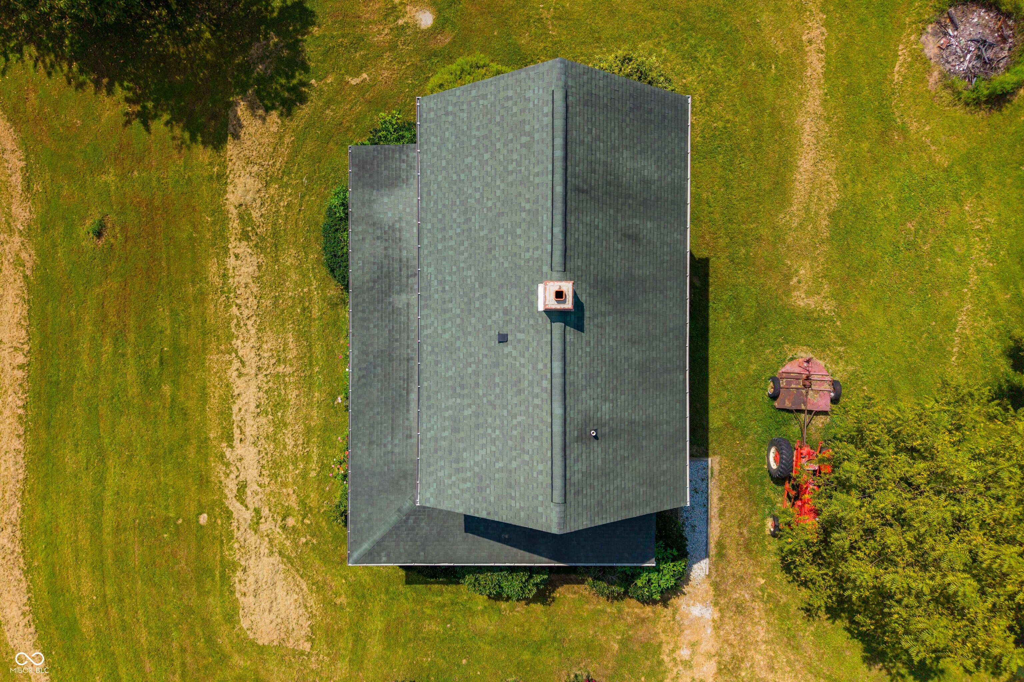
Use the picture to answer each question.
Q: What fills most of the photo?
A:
grass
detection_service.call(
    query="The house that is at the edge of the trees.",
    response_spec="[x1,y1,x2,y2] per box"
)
[348,57,692,566]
